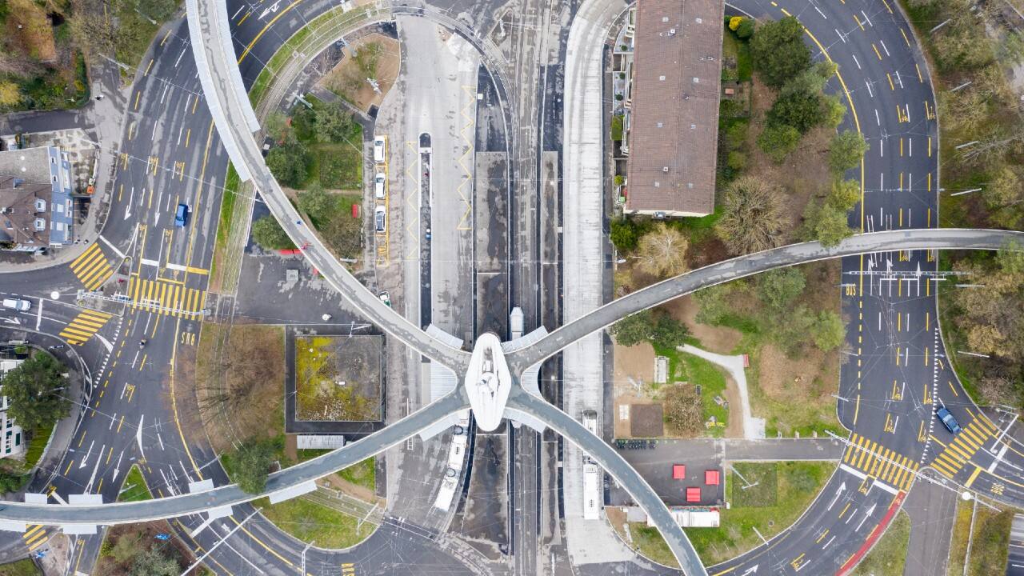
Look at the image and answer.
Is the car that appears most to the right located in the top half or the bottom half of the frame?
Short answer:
bottom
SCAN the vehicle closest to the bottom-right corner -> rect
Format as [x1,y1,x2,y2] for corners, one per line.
[936,406,961,435]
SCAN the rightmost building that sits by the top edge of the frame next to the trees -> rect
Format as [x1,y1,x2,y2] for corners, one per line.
[621,0,726,220]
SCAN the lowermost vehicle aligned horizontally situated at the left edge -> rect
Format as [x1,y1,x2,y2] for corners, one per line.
[1,298,33,311]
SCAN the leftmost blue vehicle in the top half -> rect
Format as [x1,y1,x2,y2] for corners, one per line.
[175,203,189,226]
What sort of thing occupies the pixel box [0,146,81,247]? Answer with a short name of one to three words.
house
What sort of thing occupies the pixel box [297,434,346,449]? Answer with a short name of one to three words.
shed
